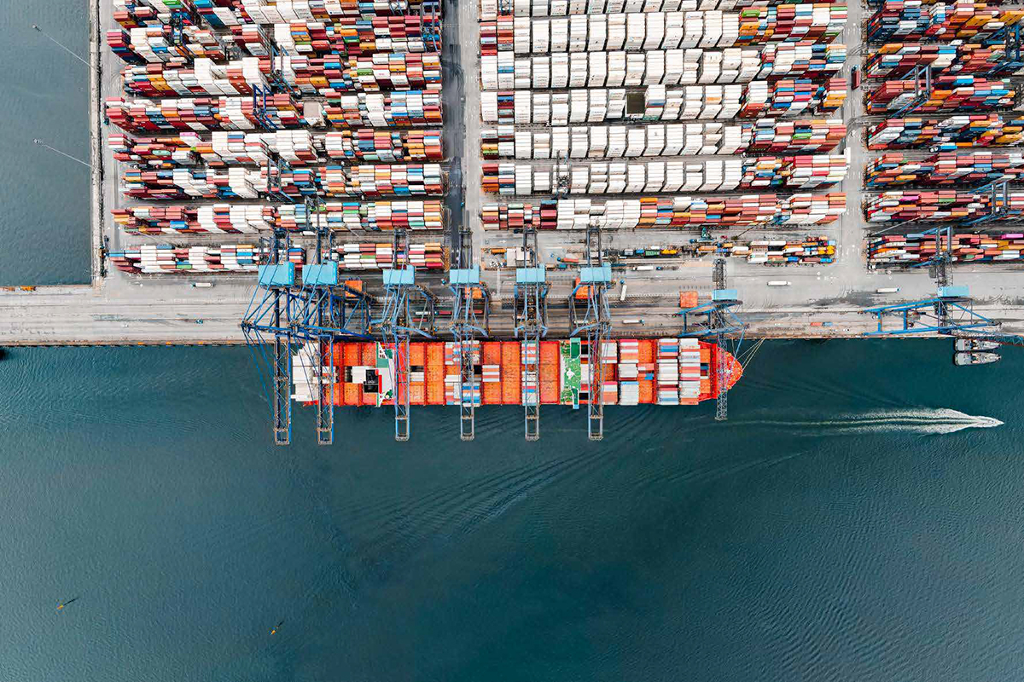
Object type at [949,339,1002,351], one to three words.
boat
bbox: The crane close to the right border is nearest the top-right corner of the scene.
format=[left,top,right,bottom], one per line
[963,14,1021,79]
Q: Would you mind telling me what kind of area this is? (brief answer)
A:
port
